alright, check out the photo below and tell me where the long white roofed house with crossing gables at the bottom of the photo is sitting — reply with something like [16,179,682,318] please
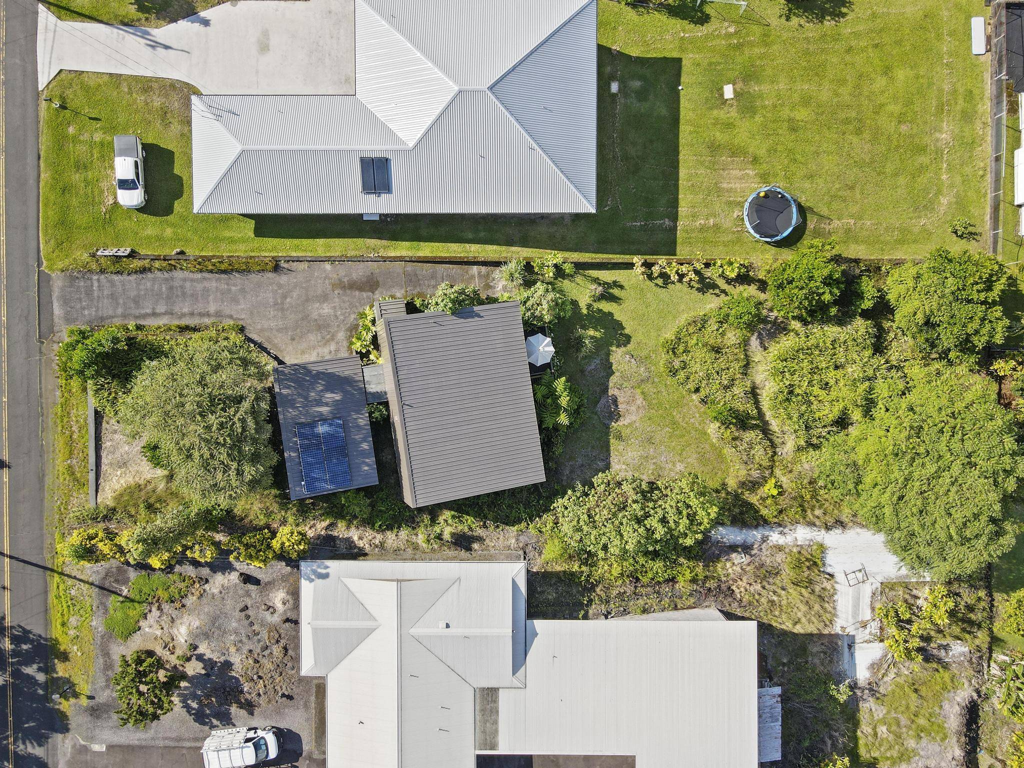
[299,560,760,768]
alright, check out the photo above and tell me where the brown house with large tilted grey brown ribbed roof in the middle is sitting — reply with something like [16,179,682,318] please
[374,298,545,508]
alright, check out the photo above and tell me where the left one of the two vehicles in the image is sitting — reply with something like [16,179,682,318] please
[113,134,151,209]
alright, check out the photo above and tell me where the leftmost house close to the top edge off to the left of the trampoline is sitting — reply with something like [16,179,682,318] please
[191,0,598,216]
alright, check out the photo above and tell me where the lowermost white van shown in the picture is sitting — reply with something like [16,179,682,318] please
[201,726,280,768]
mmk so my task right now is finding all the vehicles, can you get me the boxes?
[201,726,280,768]
[113,134,151,209]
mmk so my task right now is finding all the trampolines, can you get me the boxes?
[743,179,808,242]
